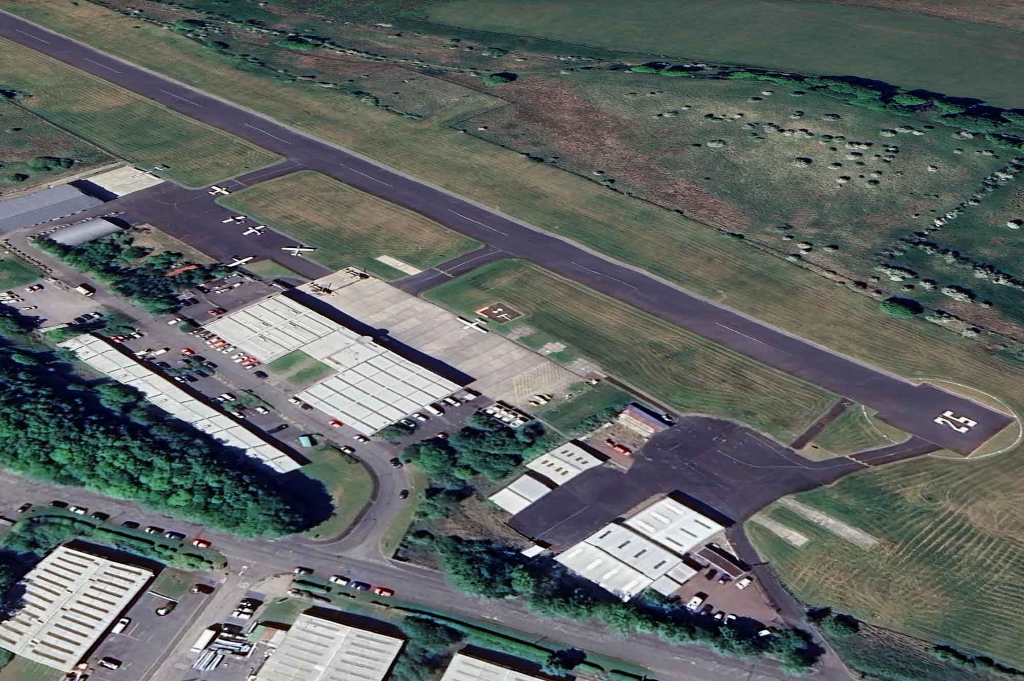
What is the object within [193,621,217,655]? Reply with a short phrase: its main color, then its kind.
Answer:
white truck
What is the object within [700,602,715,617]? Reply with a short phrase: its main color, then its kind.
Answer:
black car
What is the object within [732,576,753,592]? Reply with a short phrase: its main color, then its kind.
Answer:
white vehicle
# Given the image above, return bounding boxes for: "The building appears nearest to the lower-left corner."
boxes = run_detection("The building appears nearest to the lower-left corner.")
[0,547,157,681]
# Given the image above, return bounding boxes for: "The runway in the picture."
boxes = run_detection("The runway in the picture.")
[0,10,1015,457]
